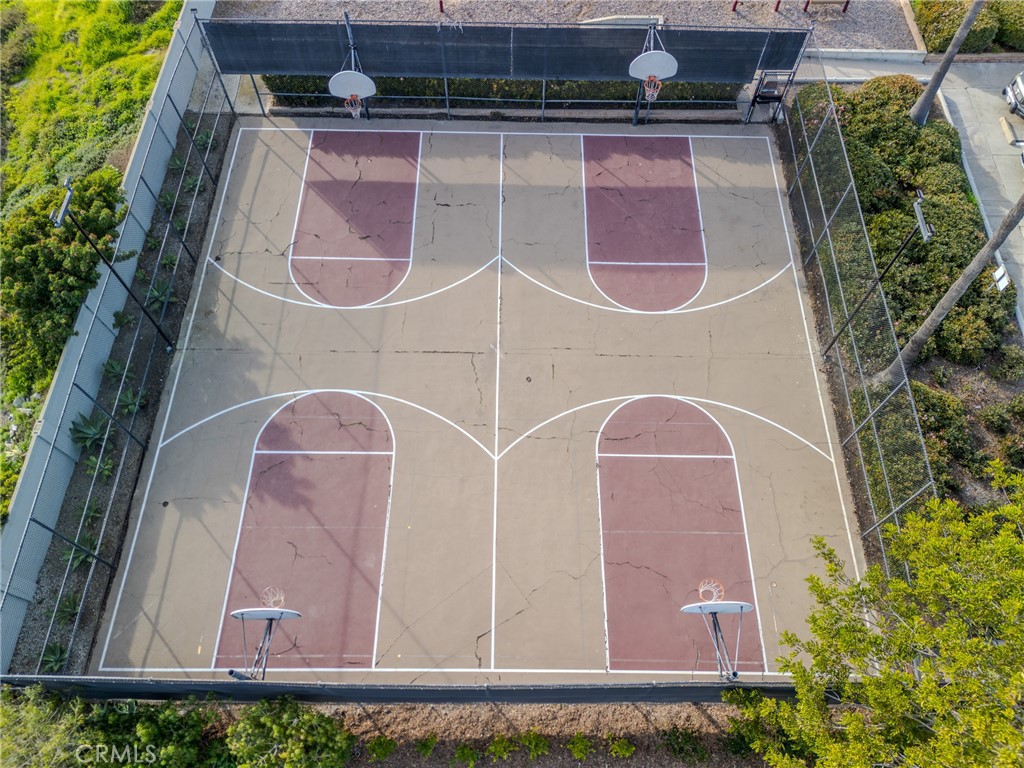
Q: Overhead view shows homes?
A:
No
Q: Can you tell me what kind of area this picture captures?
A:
sports ground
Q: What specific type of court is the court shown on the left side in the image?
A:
basketball court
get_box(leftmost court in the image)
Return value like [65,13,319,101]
[79,116,503,689]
